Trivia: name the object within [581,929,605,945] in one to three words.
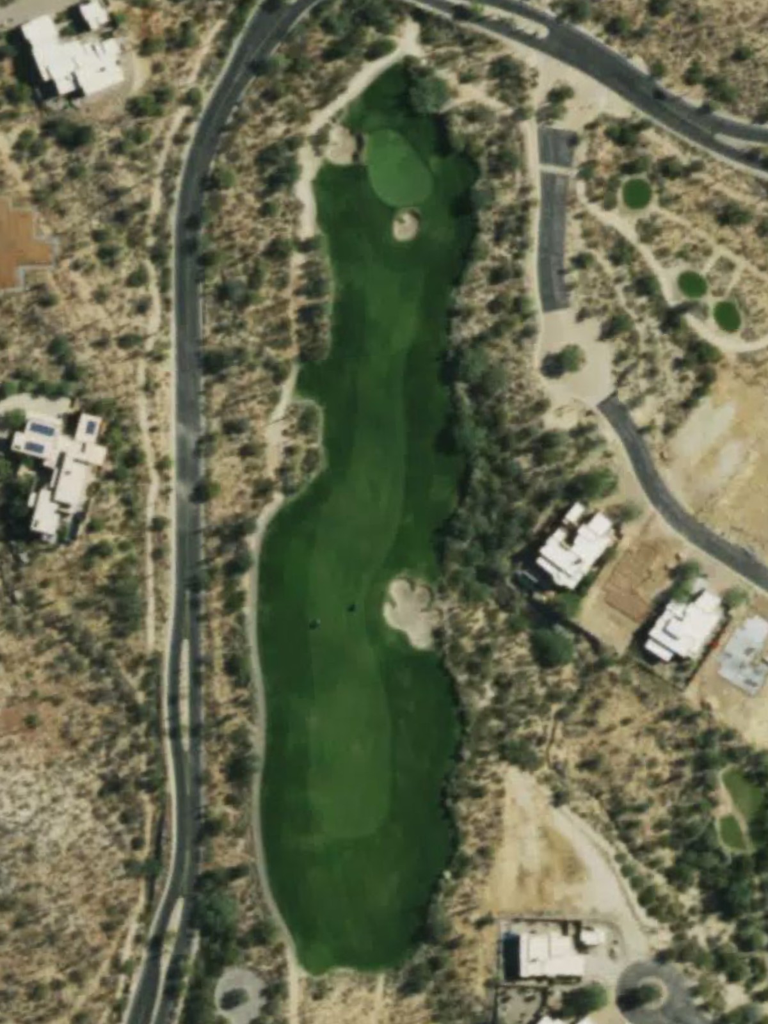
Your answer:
house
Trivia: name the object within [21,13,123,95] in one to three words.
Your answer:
house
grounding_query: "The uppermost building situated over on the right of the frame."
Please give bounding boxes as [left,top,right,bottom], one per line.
[536,502,618,592]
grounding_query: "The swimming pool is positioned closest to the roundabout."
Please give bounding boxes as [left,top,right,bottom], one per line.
[502,929,519,981]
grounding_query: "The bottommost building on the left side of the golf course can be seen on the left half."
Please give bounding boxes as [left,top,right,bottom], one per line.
[10,412,108,543]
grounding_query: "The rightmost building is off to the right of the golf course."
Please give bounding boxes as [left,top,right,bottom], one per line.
[645,587,730,662]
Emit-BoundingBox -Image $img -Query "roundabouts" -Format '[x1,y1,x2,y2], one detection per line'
[615,959,713,1024]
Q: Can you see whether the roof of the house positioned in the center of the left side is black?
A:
No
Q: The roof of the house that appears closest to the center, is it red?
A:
No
